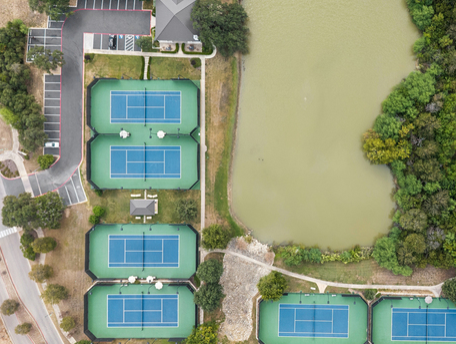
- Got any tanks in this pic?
No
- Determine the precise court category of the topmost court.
tennis court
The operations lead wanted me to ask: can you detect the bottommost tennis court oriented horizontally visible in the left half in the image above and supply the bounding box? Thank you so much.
[88,285,196,338]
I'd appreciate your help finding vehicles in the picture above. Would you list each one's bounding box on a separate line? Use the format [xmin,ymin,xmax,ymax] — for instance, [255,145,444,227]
[109,35,117,49]
[44,141,60,148]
